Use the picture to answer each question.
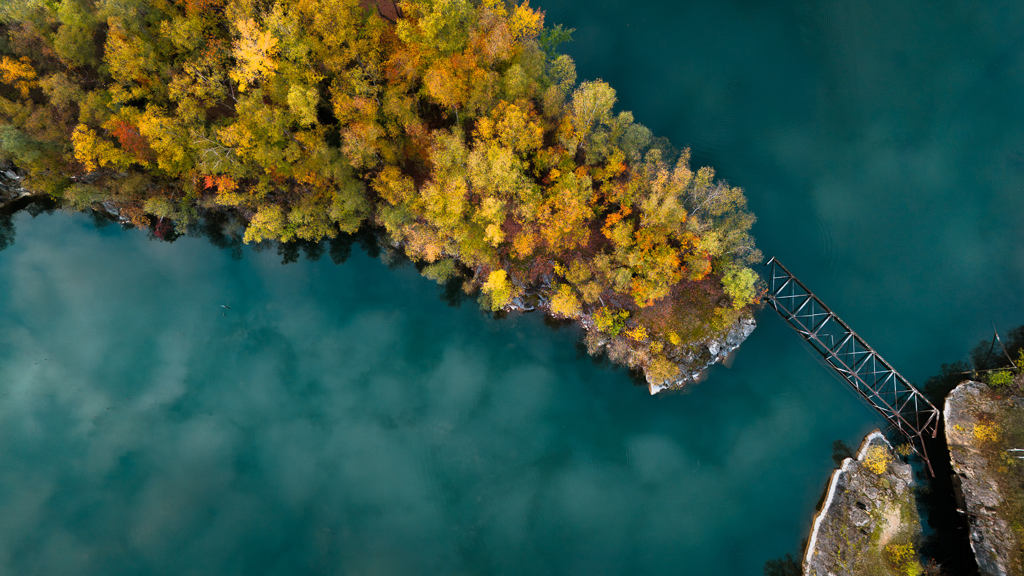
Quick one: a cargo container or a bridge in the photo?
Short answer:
bridge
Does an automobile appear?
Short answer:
No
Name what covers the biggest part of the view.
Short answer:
water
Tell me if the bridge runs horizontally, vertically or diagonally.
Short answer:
diagonally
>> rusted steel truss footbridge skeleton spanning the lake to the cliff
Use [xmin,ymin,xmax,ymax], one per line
[763,257,941,478]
